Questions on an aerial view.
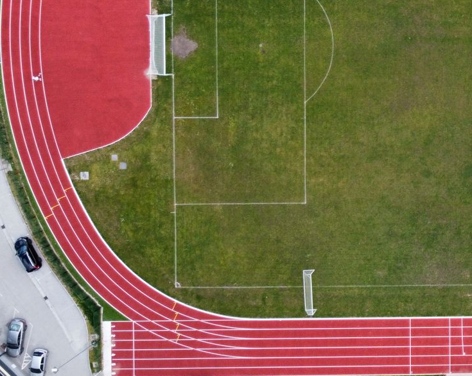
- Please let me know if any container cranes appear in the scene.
No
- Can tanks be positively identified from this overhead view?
No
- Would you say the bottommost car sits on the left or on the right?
left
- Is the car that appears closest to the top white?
No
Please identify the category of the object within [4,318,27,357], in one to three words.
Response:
car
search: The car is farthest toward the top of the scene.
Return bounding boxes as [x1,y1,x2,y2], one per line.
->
[14,236,40,273]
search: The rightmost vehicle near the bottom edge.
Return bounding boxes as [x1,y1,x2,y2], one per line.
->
[27,348,48,376]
